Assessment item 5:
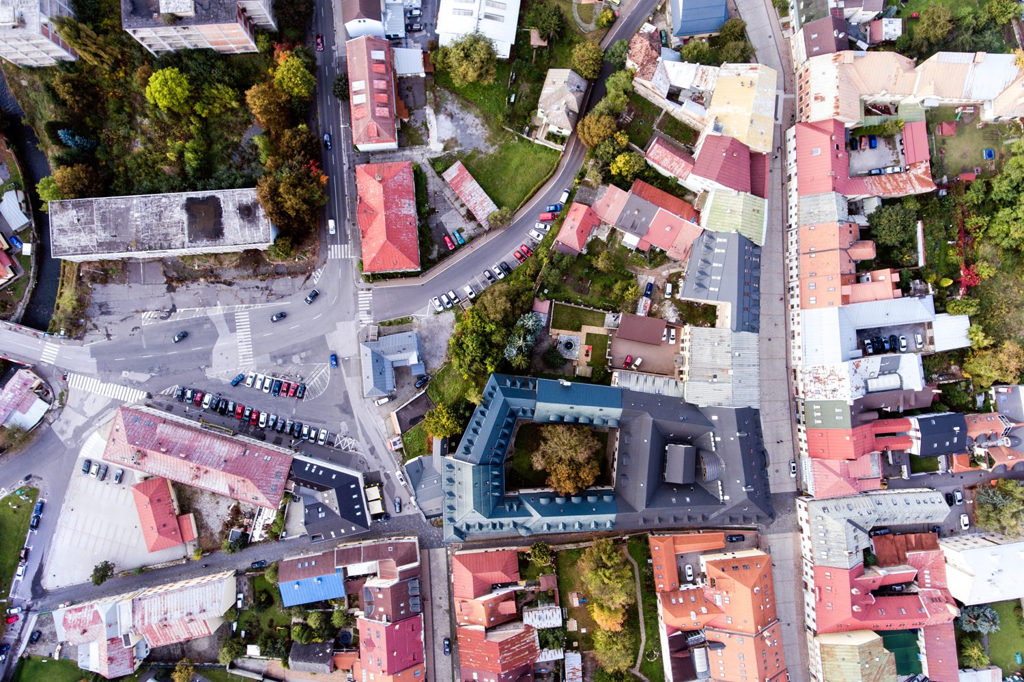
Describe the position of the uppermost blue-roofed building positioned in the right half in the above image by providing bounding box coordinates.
[667,0,730,46]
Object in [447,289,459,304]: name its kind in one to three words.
vehicle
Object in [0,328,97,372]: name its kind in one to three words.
bridge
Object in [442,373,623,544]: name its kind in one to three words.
building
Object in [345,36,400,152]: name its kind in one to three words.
house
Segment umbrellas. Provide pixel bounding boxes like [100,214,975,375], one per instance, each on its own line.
[365,486,381,501]
[368,499,384,515]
